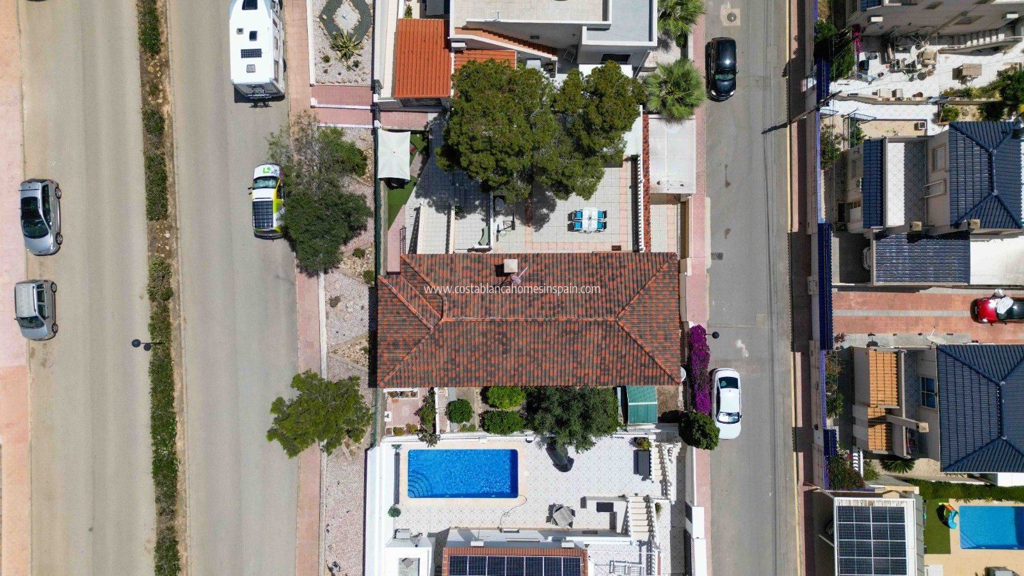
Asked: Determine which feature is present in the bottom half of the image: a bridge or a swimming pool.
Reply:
swimming pool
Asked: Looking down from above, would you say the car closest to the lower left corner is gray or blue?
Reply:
gray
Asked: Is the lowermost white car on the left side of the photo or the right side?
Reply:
right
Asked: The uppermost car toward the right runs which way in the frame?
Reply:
vertically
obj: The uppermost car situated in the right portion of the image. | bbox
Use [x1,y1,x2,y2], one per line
[706,35,741,103]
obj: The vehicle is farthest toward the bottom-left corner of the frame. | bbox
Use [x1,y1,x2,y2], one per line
[10,278,55,341]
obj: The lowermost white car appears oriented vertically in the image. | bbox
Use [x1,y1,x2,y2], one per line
[711,367,747,440]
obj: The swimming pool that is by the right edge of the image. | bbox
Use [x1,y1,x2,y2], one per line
[956,503,1024,551]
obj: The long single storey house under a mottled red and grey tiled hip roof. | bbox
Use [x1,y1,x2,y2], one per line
[376,252,690,389]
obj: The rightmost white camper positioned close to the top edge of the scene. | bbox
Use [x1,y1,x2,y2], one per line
[229,0,287,104]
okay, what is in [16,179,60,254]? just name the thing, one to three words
car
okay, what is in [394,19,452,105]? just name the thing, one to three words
building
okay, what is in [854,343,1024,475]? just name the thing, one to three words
house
